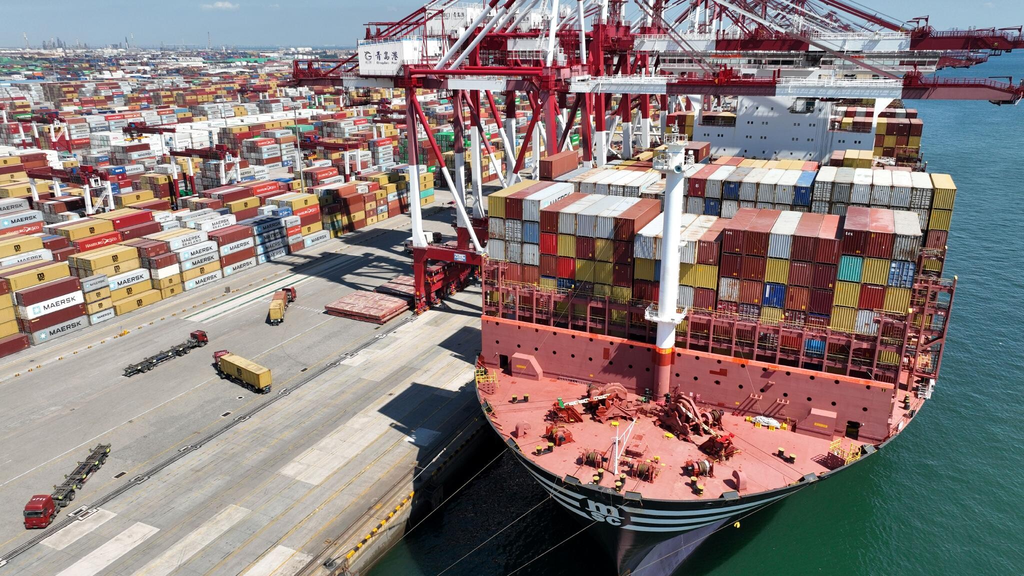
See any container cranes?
Yes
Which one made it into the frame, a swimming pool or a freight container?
freight container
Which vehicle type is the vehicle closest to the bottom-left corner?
truck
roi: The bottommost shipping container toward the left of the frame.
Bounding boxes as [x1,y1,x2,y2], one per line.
[222,353,281,383]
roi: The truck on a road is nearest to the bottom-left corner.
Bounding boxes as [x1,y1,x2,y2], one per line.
[22,445,109,524]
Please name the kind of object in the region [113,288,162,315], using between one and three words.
shipping container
